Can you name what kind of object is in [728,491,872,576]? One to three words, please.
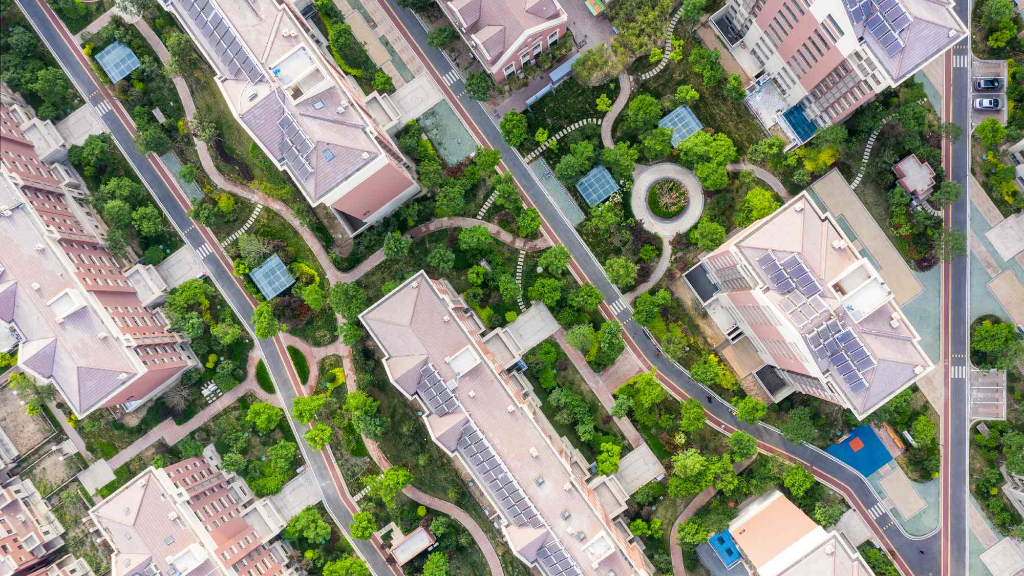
building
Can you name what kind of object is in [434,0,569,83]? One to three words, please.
building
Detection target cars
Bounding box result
[975,96,1006,110]
[976,76,1004,91]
